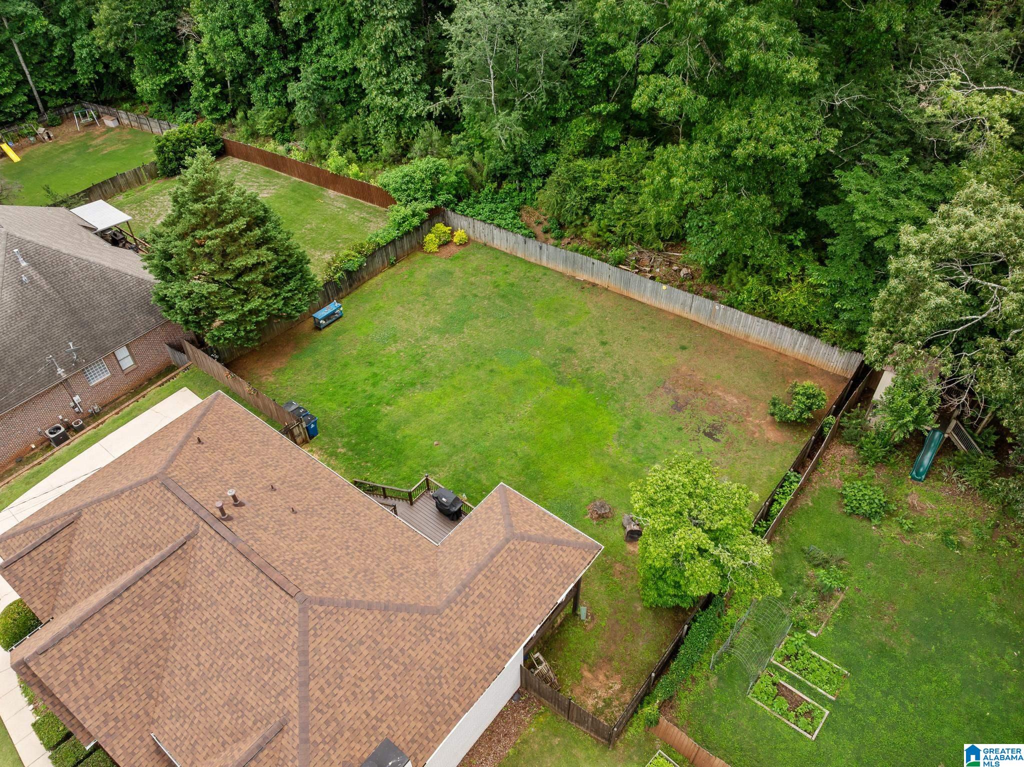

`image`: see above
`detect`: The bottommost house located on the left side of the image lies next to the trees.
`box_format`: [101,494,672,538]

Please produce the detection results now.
[0,389,606,767]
